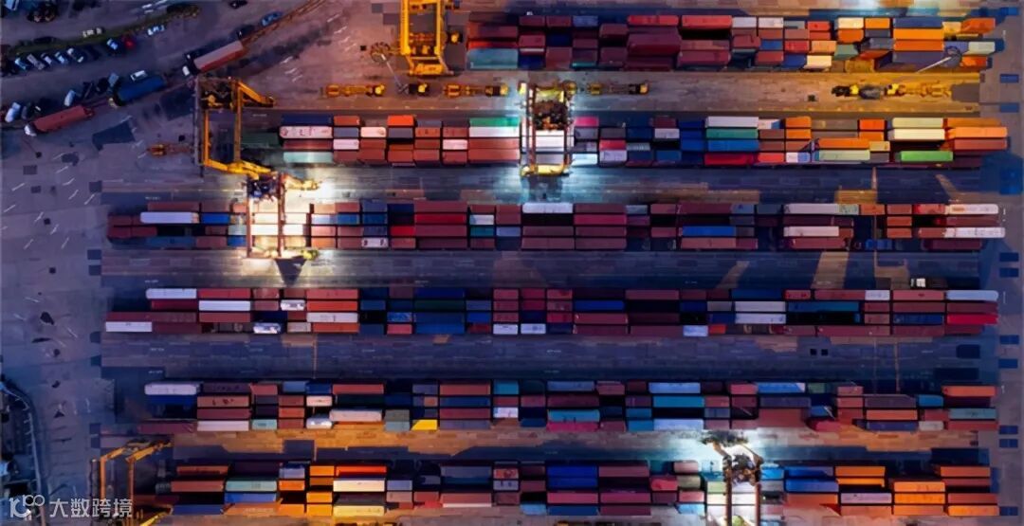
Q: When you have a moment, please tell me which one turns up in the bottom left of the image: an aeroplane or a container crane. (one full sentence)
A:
What appears in the bottom left of the image is a container crane.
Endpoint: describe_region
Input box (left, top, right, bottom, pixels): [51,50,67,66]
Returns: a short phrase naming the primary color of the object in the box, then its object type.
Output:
blue car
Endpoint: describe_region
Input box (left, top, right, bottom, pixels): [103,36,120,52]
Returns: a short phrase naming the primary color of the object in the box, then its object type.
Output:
blue car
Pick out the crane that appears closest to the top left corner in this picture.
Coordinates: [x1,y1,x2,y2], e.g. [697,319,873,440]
[198,74,281,179]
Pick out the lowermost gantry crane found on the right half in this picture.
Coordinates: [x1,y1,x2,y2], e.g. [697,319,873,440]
[695,437,764,526]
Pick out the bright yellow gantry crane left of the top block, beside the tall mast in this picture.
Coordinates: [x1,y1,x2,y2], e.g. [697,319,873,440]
[404,0,461,79]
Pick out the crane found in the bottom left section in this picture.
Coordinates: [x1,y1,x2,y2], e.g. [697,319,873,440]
[94,435,181,526]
